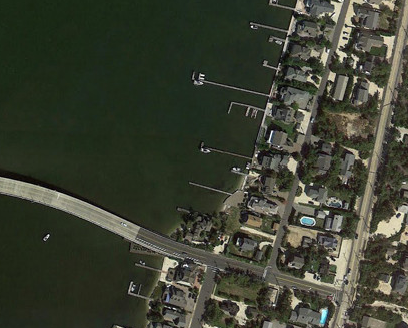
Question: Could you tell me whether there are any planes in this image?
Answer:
No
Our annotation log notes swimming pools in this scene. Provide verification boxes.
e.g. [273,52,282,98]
[325,195,342,208]
[320,308,328,324]
[301,216,316,226]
